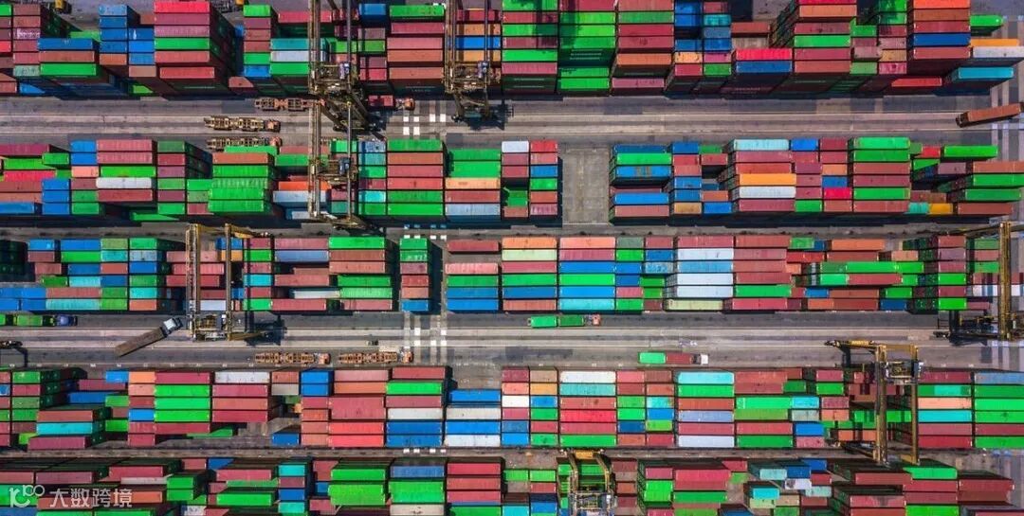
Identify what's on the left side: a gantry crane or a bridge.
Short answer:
gantry crane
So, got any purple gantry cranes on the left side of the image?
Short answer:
No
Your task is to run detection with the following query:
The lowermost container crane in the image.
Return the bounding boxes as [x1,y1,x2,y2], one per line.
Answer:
[561,447,619,516]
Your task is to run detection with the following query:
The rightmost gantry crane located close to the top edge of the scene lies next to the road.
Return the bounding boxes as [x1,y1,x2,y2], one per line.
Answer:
[443,0,497,124]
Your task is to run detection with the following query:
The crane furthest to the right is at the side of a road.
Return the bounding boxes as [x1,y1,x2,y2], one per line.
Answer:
[930,217,1024,345]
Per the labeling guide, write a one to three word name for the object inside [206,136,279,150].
vehicle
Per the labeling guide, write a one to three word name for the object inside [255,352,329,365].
vehicle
